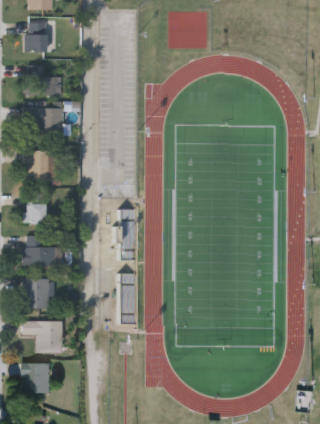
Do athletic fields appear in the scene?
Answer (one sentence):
Yes, this view includes an athletic field.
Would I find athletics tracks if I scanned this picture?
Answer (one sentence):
Yes, there's an athletics track down there.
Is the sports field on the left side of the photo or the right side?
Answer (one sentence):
The sports field sits on the right side.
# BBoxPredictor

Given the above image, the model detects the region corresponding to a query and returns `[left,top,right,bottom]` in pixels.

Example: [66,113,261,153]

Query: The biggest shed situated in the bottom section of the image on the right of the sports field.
[296,390,312,412]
